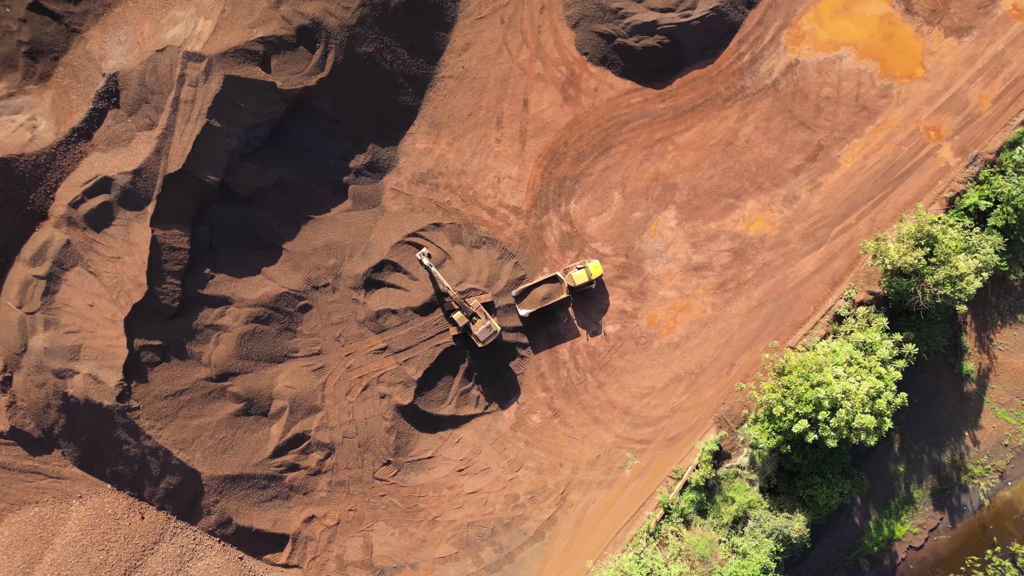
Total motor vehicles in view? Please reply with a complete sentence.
In total, there are 2 motor vehicles in the scene.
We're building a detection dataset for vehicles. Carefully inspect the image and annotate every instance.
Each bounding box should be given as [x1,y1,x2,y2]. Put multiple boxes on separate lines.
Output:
[510,254,605,321]
[410,244,500,347]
